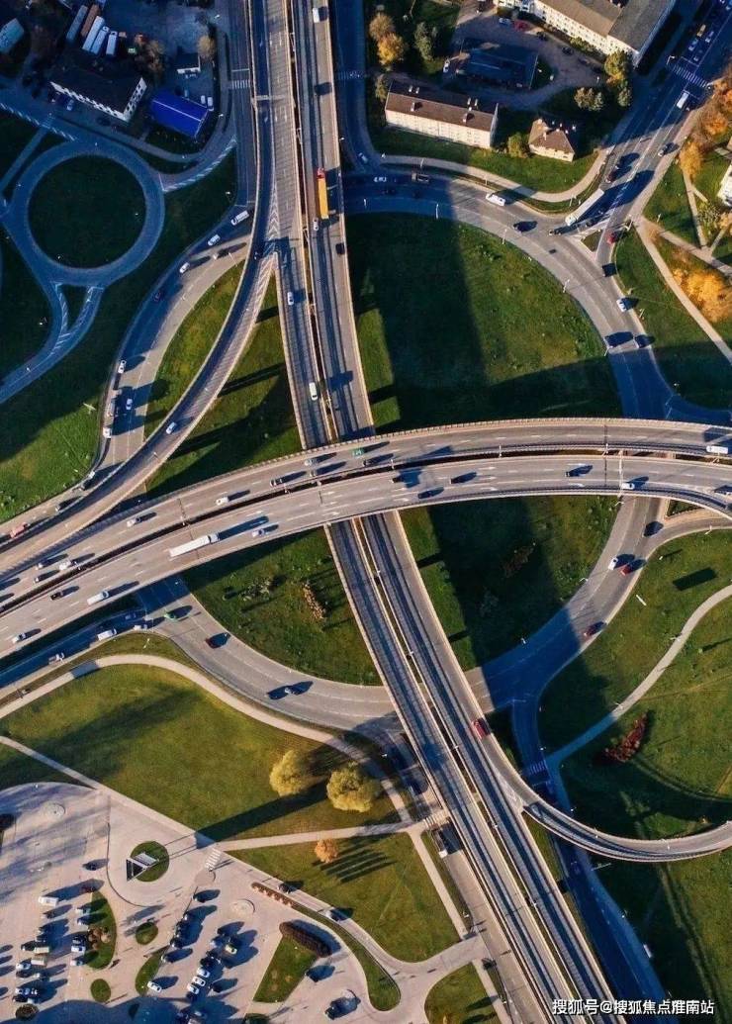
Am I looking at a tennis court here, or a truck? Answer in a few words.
truck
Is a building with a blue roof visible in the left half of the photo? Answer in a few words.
Yes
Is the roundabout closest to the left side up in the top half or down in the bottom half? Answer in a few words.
top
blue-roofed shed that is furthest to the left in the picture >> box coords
[0,15,31,62]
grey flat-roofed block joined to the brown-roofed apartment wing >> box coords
[601,0,677,74]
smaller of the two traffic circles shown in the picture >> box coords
[12,140,162,332]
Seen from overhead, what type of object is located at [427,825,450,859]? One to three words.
truck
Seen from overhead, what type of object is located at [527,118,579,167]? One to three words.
house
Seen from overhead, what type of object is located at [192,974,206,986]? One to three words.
vehicle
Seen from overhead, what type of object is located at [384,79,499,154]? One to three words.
building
